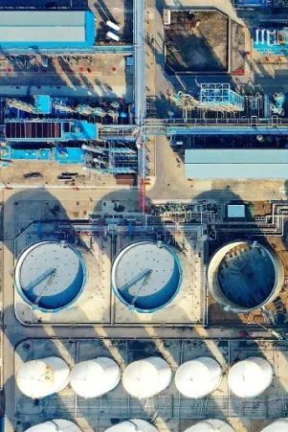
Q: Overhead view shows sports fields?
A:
No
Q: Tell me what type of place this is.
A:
industrial area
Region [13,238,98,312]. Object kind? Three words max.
storage tank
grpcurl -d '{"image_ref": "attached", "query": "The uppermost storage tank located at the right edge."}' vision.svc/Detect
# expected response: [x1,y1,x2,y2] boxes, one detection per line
[207,237,288,316]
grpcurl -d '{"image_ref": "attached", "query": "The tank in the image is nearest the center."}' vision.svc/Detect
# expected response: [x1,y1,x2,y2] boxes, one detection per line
[109,238,193,313]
